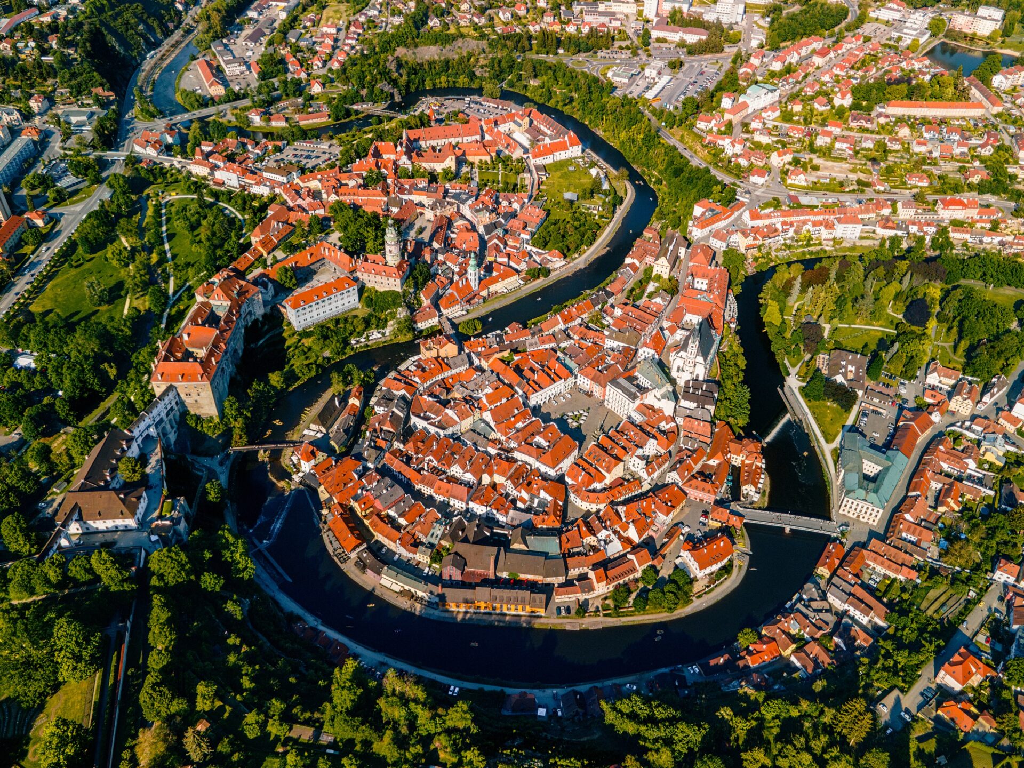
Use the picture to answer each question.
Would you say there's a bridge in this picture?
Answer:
Yes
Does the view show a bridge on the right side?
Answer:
Yes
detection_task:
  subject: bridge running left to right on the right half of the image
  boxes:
[740,507,851,540]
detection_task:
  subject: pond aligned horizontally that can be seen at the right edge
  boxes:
[923,42,1024,75]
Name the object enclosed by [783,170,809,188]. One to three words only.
house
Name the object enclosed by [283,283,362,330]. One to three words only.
building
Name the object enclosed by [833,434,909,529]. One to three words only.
building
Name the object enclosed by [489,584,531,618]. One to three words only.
house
